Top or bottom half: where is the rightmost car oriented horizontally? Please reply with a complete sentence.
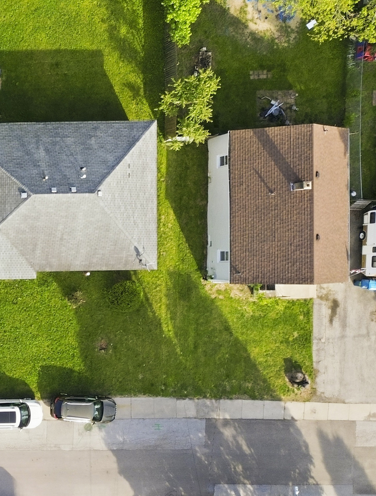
The rightmost car oriented horizontally is in the bottom half of the image.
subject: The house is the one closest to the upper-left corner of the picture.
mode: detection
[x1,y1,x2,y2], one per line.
[0,118,158,279]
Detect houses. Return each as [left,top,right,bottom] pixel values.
[207,122,354,298]
[0,118,158,279]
